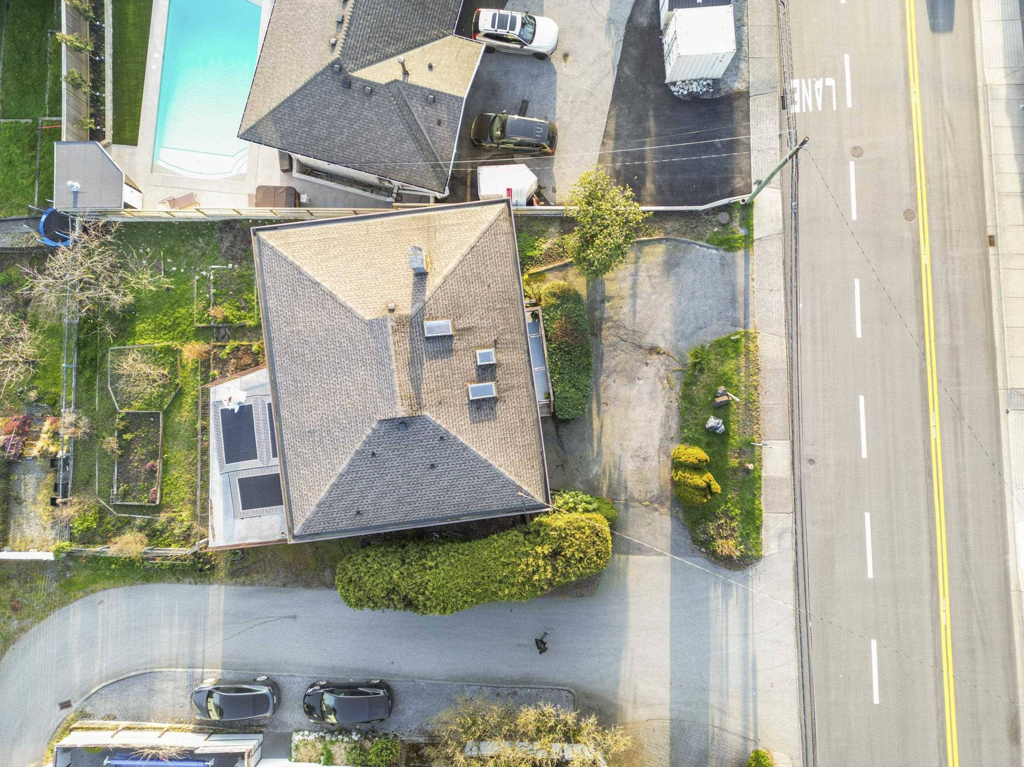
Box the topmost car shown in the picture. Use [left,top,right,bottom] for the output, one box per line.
[468,1,563,59]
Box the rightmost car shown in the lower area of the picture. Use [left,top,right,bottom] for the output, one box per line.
[302,682,386,731]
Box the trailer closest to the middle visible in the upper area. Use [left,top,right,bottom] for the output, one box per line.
[477,164,552,207]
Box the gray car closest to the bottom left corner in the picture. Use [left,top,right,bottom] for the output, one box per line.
[189,679,274,728]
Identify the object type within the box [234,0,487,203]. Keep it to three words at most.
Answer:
house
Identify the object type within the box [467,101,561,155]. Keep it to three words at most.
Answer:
car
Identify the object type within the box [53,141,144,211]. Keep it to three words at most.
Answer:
shed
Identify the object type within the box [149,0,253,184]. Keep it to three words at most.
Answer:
swimming pool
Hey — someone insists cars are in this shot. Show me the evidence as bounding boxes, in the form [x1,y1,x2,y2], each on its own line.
[302,682,386,731]
[189,679,274,728]
[467,101,561,155]
[468,1,563,59]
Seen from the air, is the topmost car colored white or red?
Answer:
white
